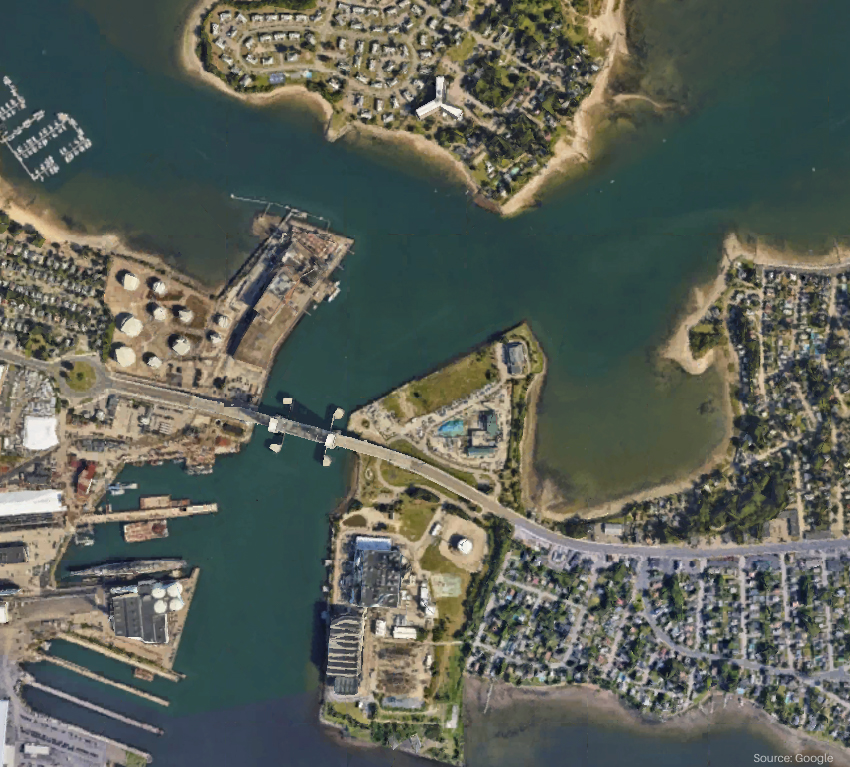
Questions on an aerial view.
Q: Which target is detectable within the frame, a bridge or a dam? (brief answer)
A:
bridge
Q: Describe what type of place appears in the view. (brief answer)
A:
port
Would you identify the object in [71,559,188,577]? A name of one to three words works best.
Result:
ship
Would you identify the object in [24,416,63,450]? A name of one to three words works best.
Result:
building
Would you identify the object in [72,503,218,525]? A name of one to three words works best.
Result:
pier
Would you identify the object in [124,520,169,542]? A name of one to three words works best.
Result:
ship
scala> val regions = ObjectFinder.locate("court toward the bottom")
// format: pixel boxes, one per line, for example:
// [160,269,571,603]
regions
[431,574,461,596]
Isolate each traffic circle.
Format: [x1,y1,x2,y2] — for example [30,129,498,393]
[57,352,105,399]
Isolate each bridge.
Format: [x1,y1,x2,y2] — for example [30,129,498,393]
[105,377,502,515]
